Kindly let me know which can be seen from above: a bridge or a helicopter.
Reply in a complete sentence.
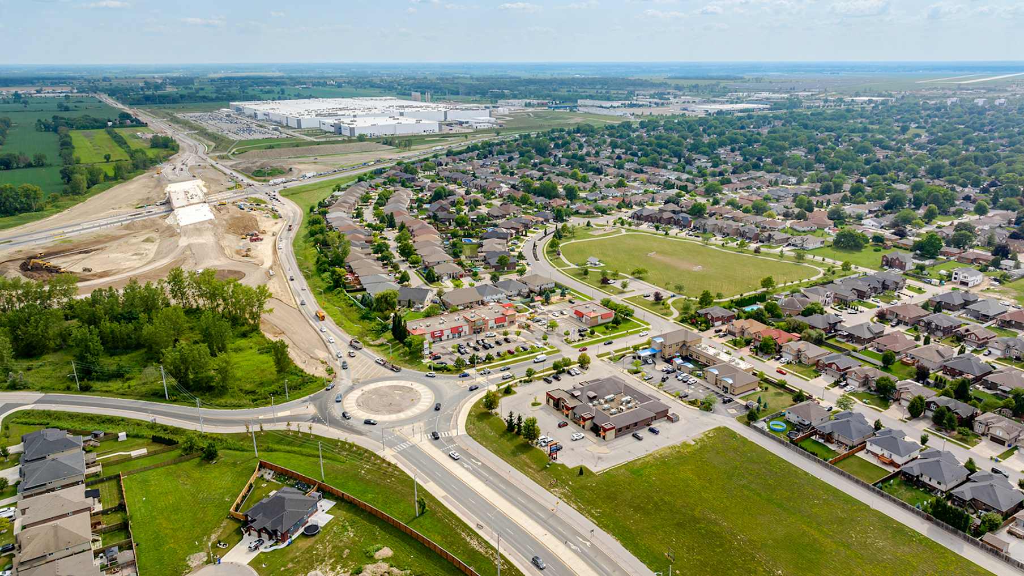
The image shows a bridge.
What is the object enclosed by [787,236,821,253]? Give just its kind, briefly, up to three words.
house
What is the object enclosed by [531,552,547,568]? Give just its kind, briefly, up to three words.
car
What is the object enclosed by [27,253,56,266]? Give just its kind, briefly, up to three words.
vehicle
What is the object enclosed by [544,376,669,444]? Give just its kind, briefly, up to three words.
building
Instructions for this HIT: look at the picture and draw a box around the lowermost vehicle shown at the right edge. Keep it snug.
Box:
[990,462,1011,476]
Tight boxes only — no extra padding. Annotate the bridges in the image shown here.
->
[165,179,215,227]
